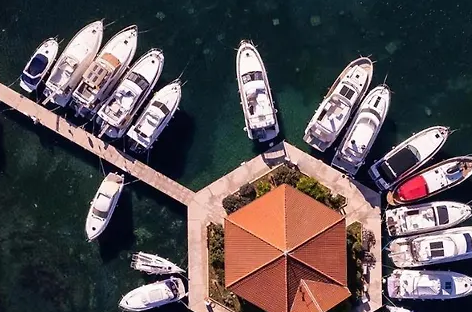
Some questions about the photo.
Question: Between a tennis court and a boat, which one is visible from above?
boat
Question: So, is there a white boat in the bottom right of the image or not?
Yes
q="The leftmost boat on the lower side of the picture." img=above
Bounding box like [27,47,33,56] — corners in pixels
[83,158,140,242]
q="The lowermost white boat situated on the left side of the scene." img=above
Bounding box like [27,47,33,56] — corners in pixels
[116,278,191,311]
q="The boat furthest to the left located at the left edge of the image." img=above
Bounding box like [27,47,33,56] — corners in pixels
[10,32,66,97]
